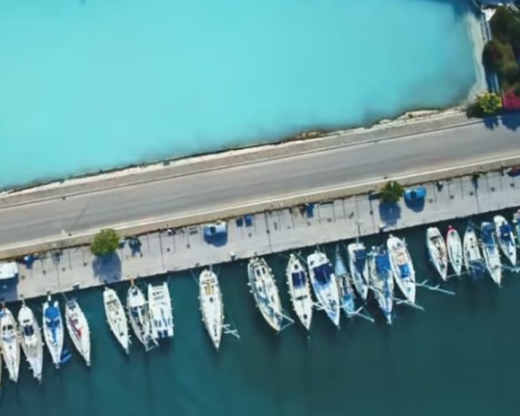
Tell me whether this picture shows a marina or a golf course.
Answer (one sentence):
This image shows a marina.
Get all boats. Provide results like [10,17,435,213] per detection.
[0,299,22,383]
[41,291,65,370]
[248,253,295,332]
[491,207,520,267]
[478,209,520,288]
[445,217,483,276]
[126,276,153,352]
[306,242,371,329]
[348,234,389,300]
[383,227,459,305]
[460,214,509,277]
[102,281,130,355]
[196,262,242,352]
[283,250,325,331]
[424,220,468,281]
[368,231,432,325]
[64,287,91,367]
[17,296,46,384]
[328,241,369,317]
[146,271,175,338]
